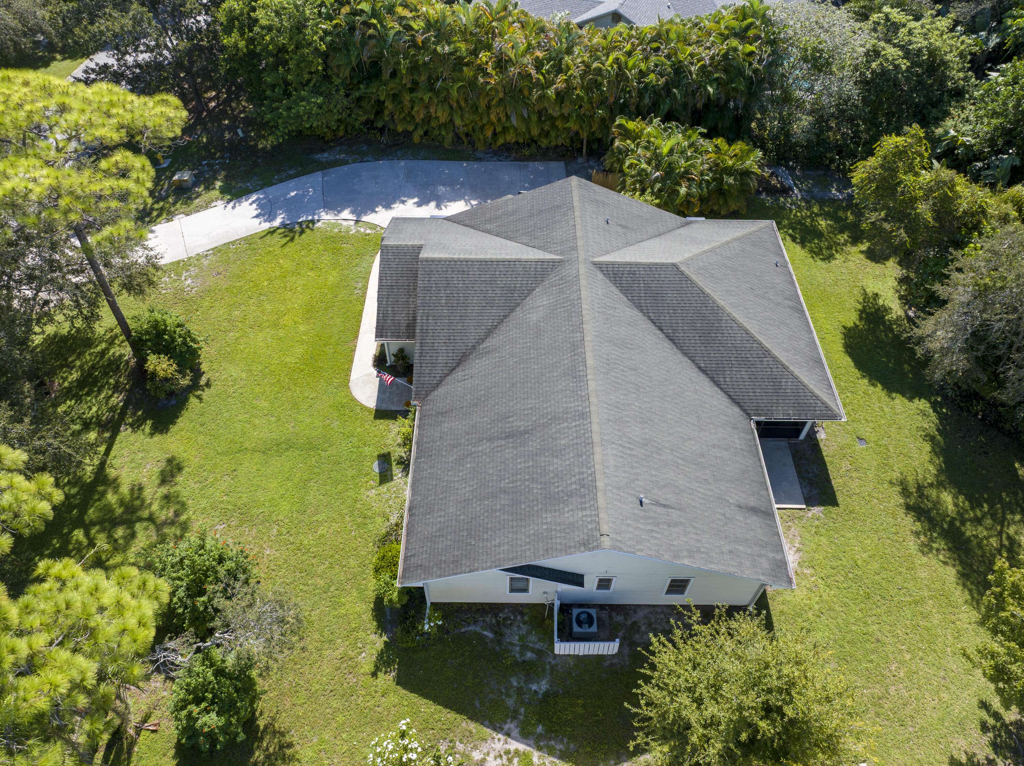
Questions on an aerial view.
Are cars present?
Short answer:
No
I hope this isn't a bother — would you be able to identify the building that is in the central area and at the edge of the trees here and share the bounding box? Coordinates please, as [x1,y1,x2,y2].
[374,172,851,626]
